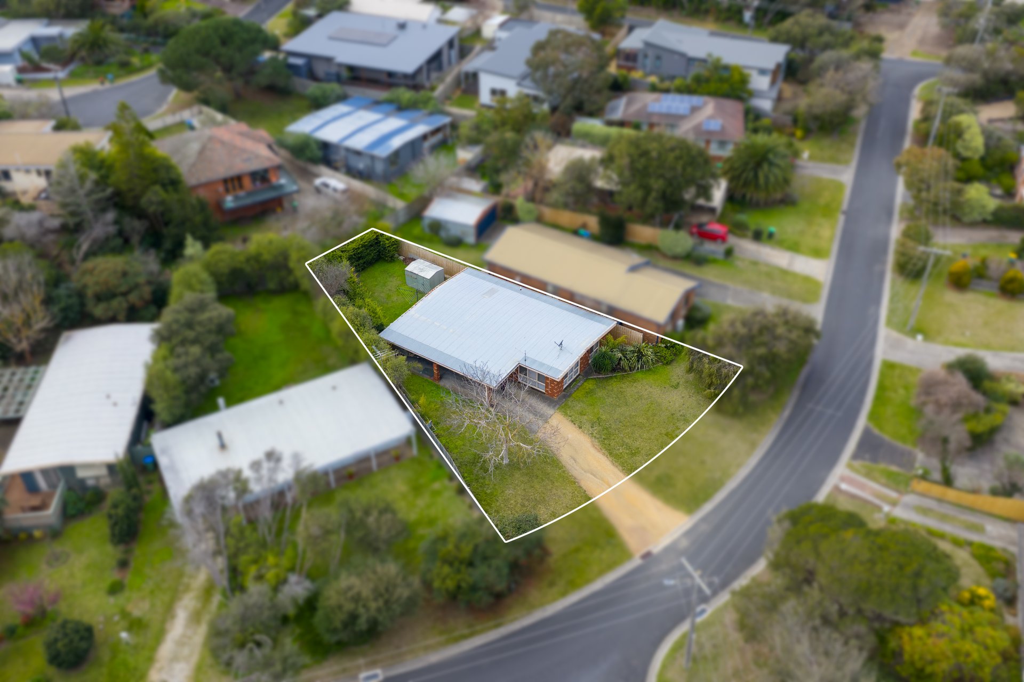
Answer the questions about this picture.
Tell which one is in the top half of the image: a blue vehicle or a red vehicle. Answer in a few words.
red vehicle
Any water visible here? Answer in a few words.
No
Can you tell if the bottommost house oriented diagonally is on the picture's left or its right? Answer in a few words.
left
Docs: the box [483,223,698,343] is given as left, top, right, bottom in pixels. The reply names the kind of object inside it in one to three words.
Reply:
house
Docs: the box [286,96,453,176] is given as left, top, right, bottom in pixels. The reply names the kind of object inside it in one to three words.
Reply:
house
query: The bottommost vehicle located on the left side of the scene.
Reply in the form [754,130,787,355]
[314,178,349,195]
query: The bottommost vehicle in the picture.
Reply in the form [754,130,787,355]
[691,224,730,244]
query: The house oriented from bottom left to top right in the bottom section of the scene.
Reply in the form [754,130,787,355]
[0,322,165,531]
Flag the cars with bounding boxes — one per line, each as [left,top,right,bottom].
[314,178,349,195]
[691,224,730,244]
